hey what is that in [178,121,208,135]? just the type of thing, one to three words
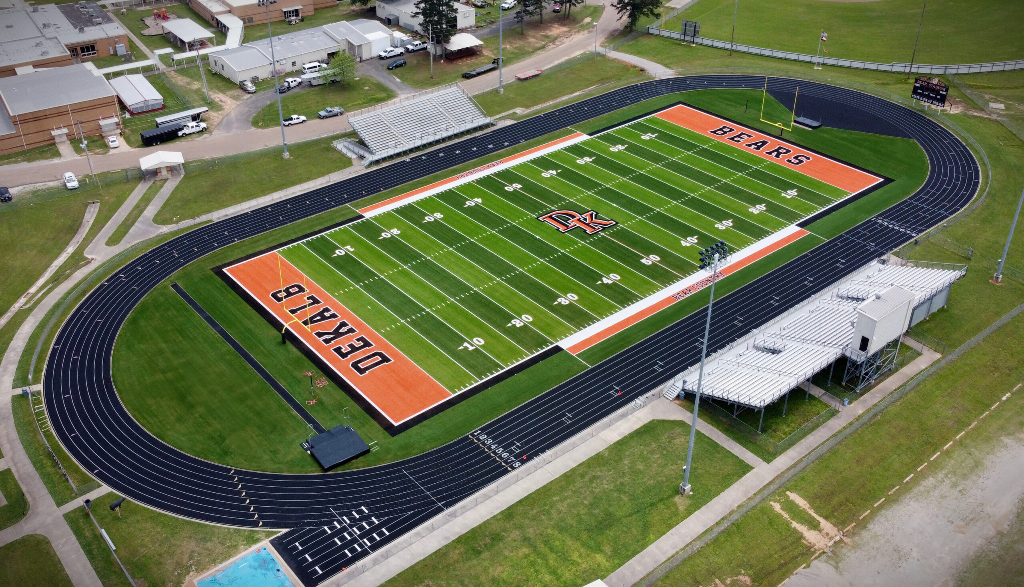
vehicle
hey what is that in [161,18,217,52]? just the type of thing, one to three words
building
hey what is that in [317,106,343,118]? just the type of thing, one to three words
vehicle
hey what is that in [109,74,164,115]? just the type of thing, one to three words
shed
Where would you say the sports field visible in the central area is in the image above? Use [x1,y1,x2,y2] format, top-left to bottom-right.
[211,101,896,437]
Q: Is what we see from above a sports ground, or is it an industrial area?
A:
sports ground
